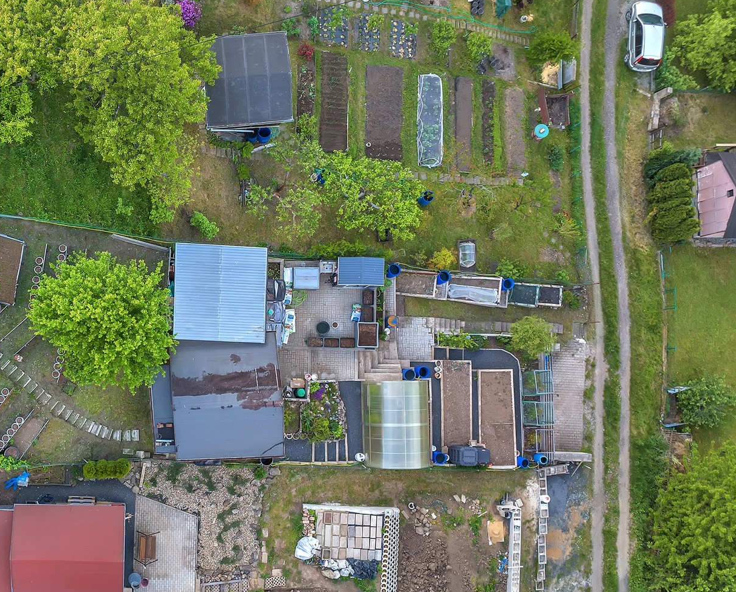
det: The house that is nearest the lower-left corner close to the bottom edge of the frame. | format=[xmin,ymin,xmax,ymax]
[0,499,125,592]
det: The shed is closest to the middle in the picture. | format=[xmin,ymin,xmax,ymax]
[332,256,384,287]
